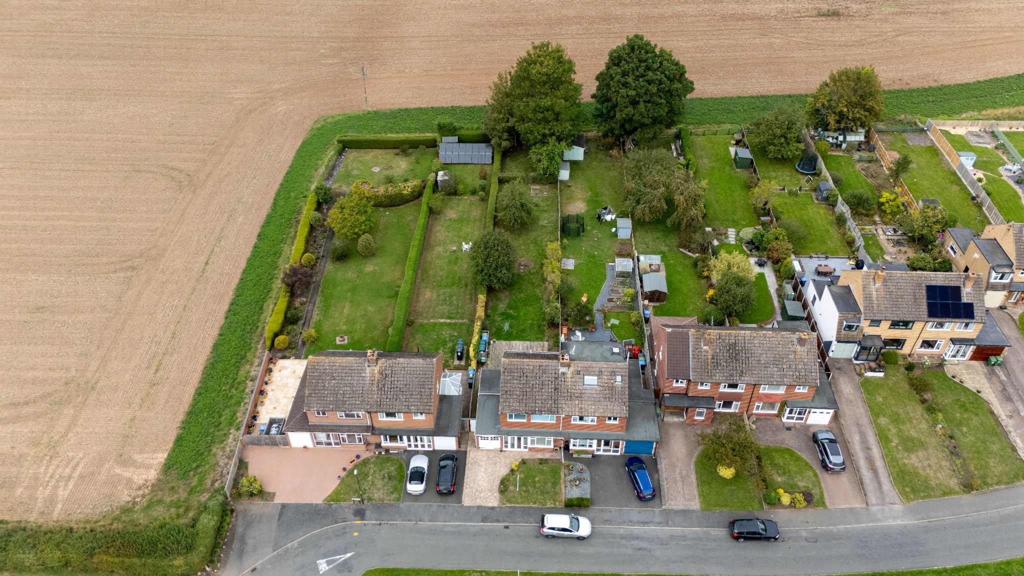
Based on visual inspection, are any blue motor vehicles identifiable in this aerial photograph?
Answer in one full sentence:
Yes, you can see a blue motor vehicle in this photo.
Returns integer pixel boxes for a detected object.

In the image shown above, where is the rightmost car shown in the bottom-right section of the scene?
[814,431,848,472]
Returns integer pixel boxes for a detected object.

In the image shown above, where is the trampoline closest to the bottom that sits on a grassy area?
[562,215,584,239]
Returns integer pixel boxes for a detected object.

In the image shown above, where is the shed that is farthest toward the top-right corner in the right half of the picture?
[956,149,980,168]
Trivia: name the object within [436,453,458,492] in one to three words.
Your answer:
car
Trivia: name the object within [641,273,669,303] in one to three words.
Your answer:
shed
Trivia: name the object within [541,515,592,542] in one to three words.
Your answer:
car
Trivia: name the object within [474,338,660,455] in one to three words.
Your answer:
house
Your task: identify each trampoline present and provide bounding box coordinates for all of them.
[562,215,584,239]
[795,150,824,176]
